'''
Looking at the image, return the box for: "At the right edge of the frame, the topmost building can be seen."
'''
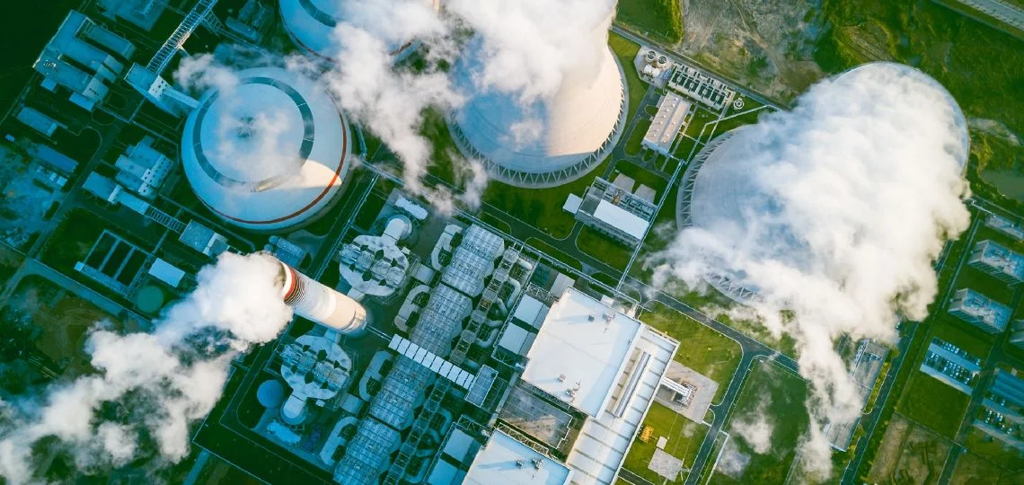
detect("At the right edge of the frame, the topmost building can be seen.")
[977,207,1024,248]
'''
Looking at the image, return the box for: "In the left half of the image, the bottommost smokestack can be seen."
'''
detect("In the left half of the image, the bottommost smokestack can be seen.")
[261,262,371,333]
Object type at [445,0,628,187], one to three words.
cooling tower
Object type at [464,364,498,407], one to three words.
house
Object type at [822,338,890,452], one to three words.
building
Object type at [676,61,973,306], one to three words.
cooling tower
